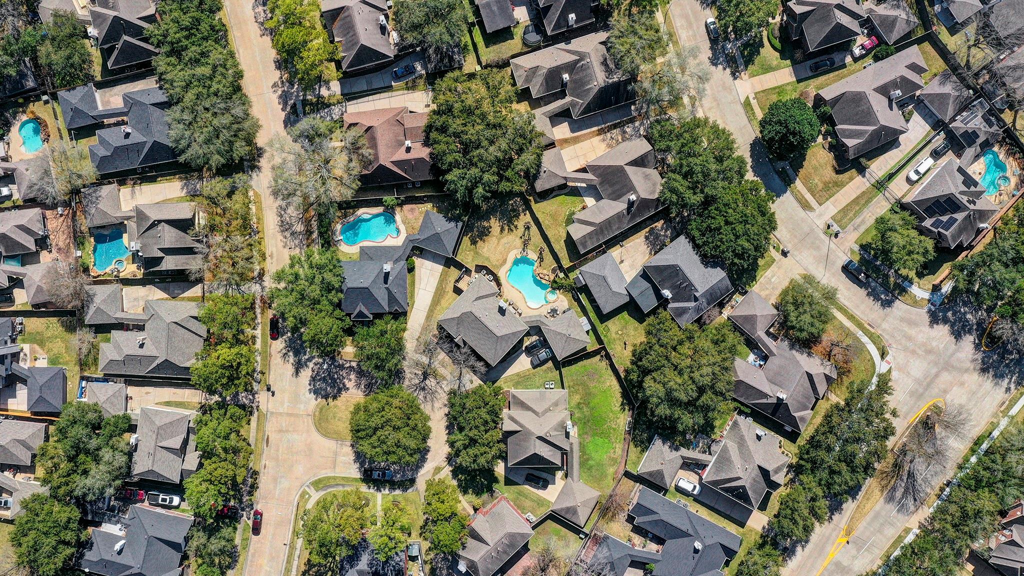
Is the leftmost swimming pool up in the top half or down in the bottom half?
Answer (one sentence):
Seen from above, the leftmost swimming pool lies in the top half of the view.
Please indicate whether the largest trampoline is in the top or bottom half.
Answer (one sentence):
It is in the top half that the largest trampoline appears.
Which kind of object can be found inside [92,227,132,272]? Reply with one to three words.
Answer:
swimming pool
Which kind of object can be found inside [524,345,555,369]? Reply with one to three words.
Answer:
truck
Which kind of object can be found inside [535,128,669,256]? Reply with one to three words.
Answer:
house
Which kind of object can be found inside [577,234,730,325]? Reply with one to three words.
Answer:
house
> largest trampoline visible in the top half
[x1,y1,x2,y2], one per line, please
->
[523,21,544,44]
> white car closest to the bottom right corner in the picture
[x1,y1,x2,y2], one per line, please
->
[673,476,702,495]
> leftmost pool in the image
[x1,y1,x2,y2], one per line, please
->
[15,115,47,157]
